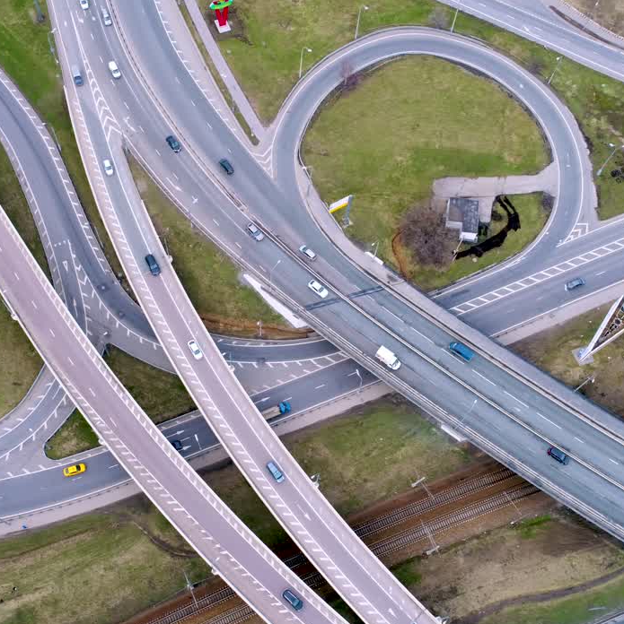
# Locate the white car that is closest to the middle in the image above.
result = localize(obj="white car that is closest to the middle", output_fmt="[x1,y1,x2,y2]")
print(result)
[306,278,328,299]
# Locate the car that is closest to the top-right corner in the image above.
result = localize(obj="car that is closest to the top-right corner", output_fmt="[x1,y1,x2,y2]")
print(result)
[565,277,586,291]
